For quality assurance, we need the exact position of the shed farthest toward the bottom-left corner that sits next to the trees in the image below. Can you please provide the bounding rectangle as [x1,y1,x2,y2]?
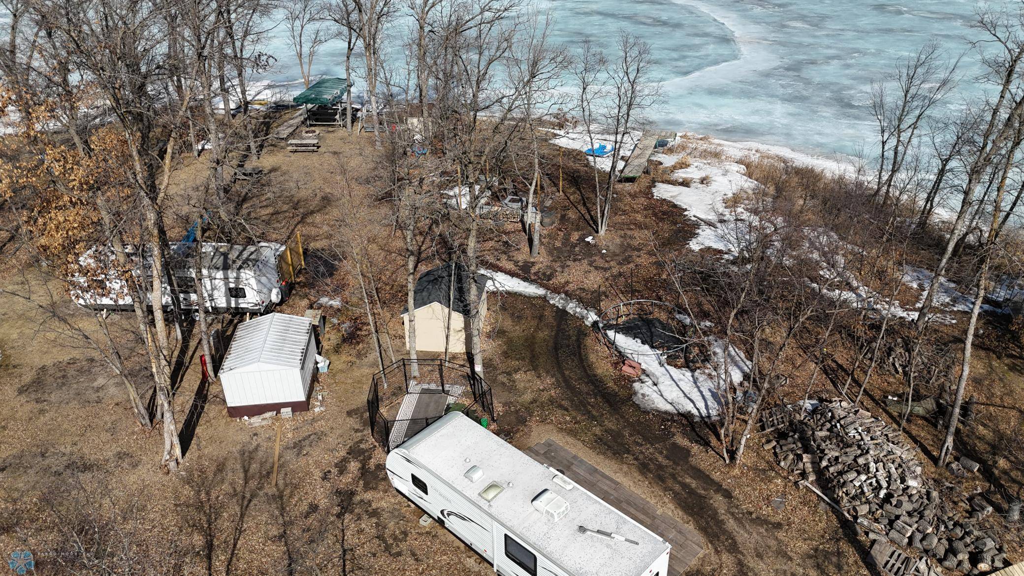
[214,311,320,417]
